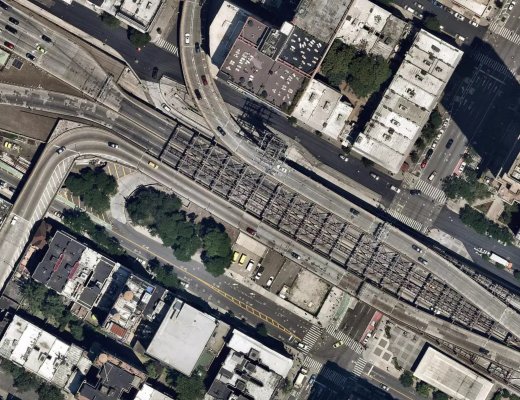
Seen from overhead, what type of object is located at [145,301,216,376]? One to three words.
building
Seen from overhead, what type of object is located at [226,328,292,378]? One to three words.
building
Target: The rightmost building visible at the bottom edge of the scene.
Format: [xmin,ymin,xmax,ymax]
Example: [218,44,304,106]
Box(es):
[412,346,495,400]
